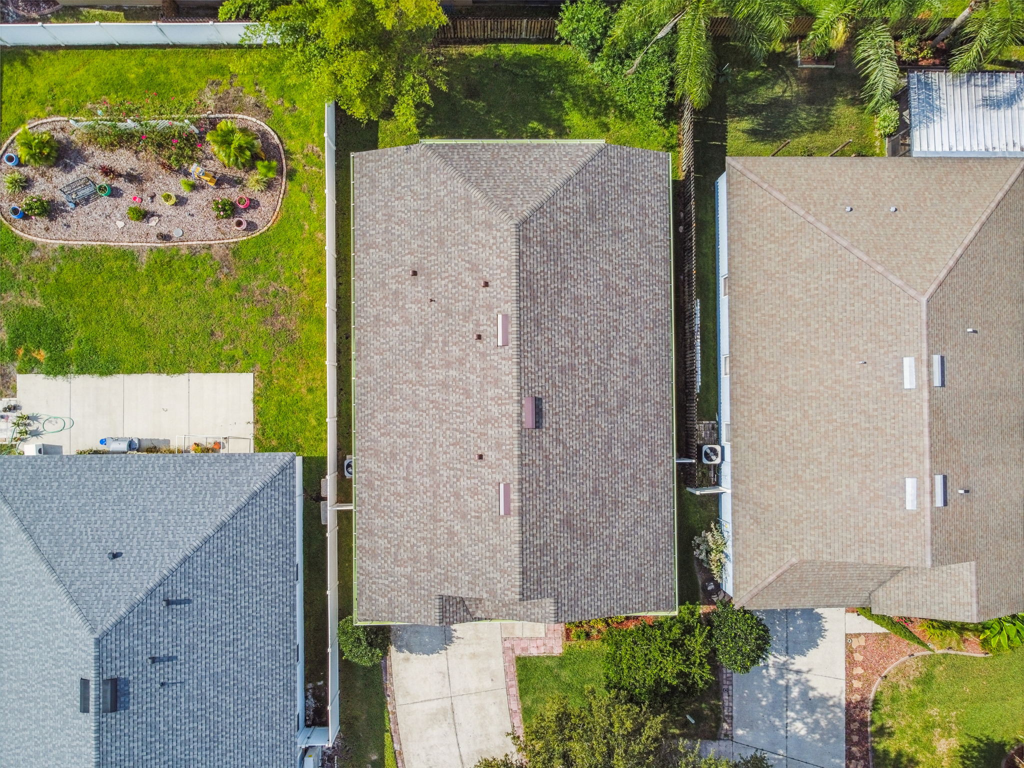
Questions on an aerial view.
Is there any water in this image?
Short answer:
No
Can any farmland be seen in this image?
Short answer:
No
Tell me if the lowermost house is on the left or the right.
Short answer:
left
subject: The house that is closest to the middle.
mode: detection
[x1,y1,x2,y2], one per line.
[351,140,678,626]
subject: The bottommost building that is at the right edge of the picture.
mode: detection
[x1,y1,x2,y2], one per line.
[718,155,1024,622]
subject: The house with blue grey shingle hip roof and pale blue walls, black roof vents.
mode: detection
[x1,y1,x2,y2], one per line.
[0,450,305,768]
